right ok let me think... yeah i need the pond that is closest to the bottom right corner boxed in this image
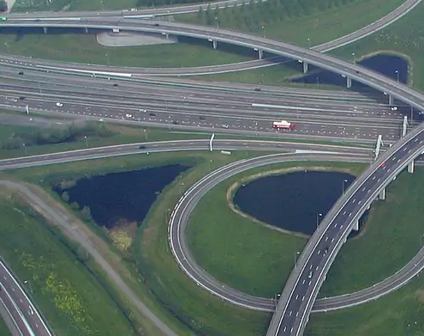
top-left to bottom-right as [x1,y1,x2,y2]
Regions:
[233,170,364,235]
